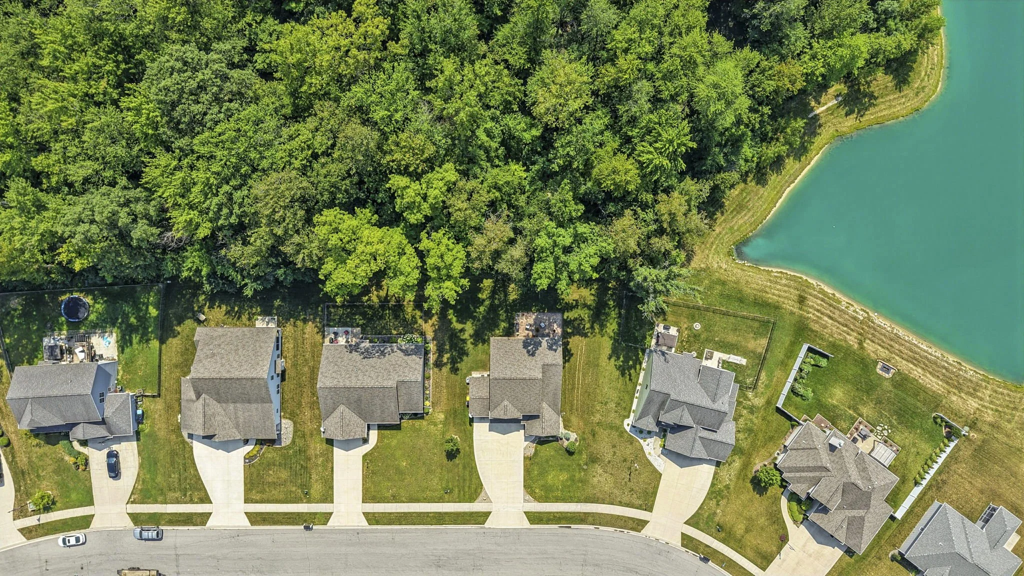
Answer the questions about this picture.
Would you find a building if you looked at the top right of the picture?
No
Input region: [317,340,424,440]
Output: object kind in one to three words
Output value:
house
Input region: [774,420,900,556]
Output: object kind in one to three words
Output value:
house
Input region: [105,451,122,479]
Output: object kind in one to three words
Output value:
car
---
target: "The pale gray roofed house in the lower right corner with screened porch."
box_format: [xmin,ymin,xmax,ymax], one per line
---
[899,501,1023,576]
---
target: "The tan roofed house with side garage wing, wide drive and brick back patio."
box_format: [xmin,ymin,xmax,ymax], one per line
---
[469,337,562,437]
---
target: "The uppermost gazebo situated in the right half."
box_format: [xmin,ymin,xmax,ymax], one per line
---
[654,332,677,348]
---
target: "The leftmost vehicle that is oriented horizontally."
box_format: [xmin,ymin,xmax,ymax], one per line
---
[59,532,89,548]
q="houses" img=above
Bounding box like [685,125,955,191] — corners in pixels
[181,327,287,442]
[317,340,424,440]
[774,420,900,556]
[899,501,1023,576]
[469,337,562,437]
[632,350,740,462]
[6,361,139,441]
